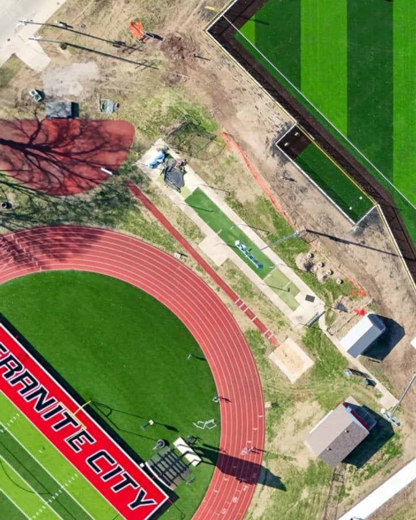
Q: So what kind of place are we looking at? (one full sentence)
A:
The picture captures a sports ground.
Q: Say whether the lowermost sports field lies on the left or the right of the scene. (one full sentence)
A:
The lowermost sports field is on the left side of the image.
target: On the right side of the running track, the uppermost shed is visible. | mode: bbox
[340,311,387,357]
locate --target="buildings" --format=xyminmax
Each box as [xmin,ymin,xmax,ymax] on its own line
[46,100,76,118]
[307,395,371,467]
[340,311,387,357]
